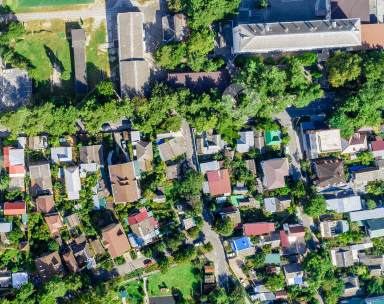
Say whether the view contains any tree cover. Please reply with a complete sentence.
Yes, there's tree cover in this view.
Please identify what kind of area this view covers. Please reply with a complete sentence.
The area seen from above is a residential area.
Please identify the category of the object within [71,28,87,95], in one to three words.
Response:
shed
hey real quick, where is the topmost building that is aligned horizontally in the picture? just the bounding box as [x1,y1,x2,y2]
[227,18,363,55]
